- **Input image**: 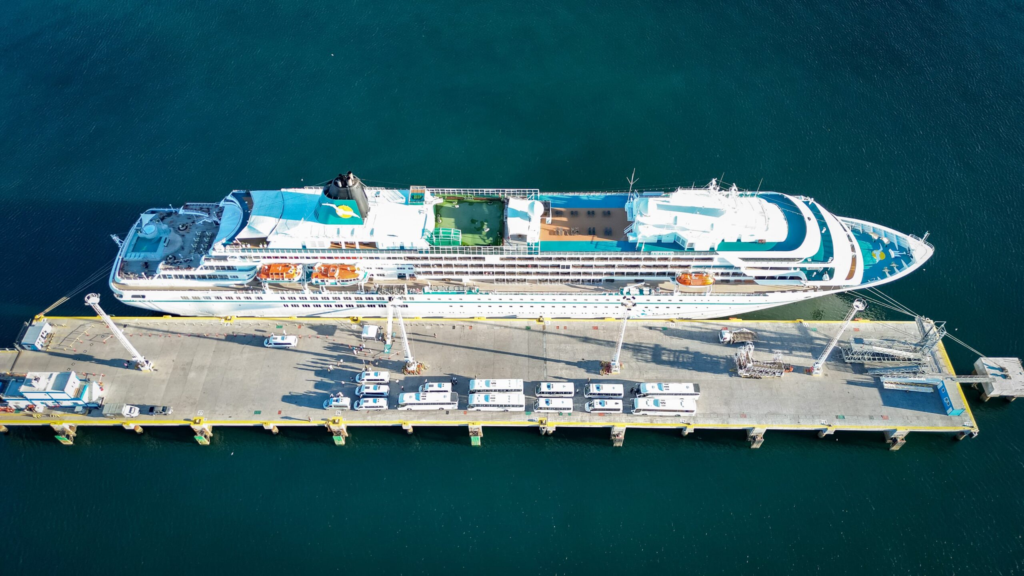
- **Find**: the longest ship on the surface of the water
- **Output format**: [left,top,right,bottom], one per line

[109,168,936,320]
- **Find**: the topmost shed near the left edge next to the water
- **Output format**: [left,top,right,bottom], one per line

[17,320,51,350]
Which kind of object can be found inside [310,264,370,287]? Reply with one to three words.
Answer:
boat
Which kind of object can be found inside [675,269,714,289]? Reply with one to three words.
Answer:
boat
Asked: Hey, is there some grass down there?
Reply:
No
